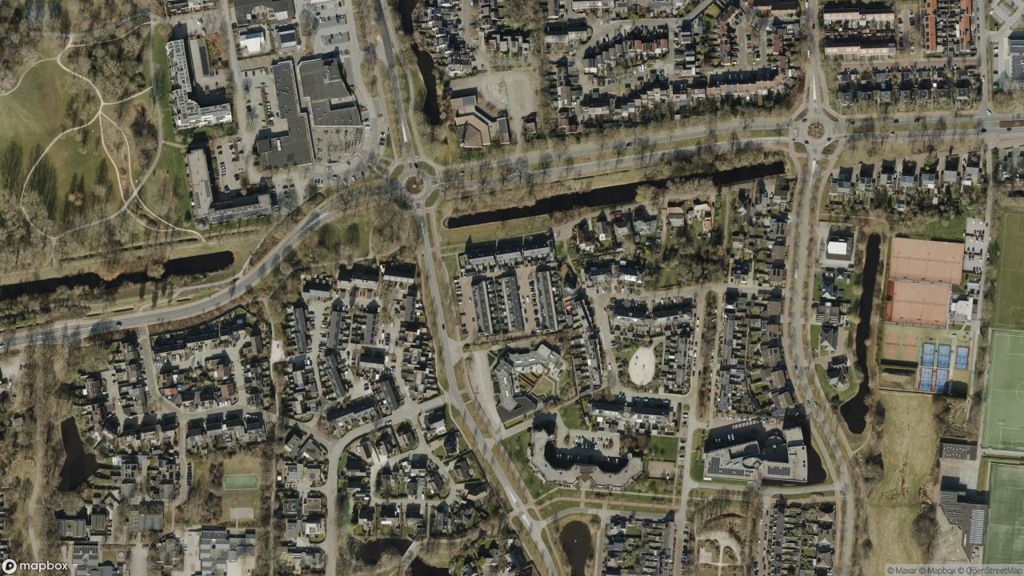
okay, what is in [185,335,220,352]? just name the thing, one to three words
building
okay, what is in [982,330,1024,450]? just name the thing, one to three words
soccer field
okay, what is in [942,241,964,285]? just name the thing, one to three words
tennis court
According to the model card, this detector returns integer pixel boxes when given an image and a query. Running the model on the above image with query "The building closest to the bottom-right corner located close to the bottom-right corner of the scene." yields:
[939,490,988,563]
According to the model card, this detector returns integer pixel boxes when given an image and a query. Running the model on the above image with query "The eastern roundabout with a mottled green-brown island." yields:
[794,108,839,154]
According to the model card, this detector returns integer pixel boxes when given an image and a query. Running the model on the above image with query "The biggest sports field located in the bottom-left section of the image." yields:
[222,453,262,524]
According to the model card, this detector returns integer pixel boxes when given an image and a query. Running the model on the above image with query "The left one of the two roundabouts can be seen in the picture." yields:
[390,161,439,207]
